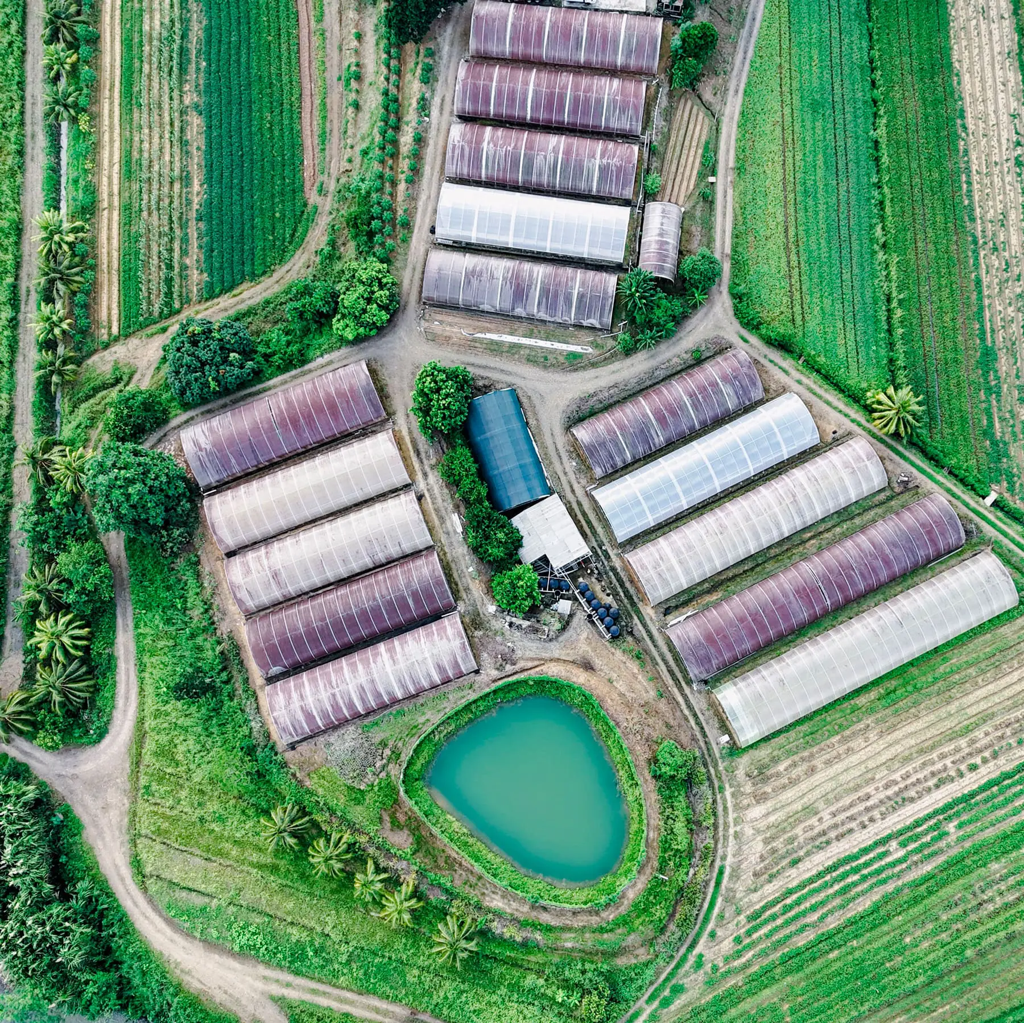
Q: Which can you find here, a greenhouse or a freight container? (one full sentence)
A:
I can see a greenhouse in this picture.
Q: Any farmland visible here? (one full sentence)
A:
Yes, farmland shows up in the scene.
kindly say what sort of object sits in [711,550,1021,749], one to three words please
greenhouse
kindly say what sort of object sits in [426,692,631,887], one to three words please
pond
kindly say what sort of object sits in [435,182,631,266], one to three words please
greenhouse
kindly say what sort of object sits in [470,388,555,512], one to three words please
building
